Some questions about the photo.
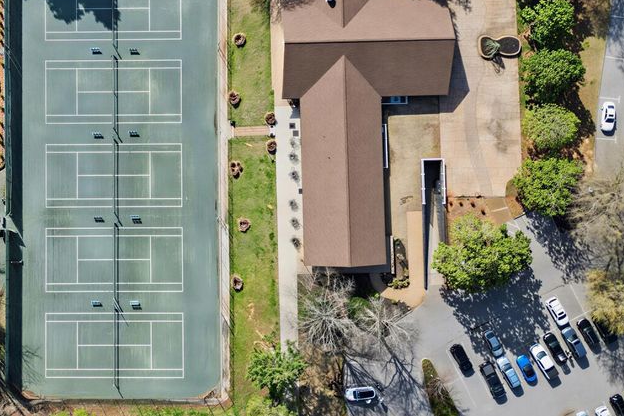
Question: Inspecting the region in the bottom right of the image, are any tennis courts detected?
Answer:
No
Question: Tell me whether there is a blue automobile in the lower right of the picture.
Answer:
Yes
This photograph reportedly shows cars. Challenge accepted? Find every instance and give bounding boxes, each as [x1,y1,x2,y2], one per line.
[497,357,520,386]
[545,297,567,326]
[607,391,624,416]
[560,325,587,360]
[346,387,375,401]
[450,342,472,372]
[543,332,567,361]
[599,103,615,132]
[515,354,537,381]
[478,361,504,396]
[592,318,614,347]
[530,343,556,378]
[576,320,600,349]
[482,328,504,356]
